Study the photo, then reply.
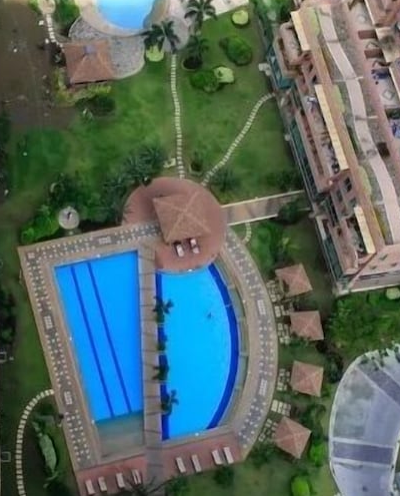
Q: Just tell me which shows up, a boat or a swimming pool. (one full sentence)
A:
There is a swimming pool in the scene.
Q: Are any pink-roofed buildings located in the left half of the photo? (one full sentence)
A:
No, in the left half of the photo there is no pink-roofed building.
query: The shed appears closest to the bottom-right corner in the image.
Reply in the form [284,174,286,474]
[271,417,311,460]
